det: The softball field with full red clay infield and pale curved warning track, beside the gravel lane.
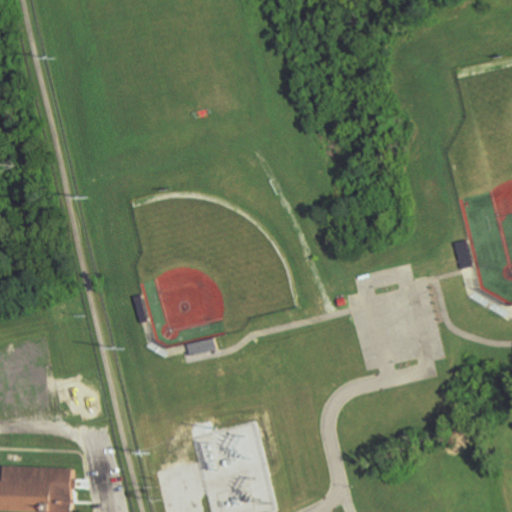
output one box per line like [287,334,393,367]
[132,190,296,348]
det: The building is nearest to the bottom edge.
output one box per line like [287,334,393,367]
[0,466,80,512]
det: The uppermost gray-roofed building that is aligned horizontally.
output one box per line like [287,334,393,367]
[186,338,218,356]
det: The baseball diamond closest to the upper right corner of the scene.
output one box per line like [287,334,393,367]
[448,57,512,304]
